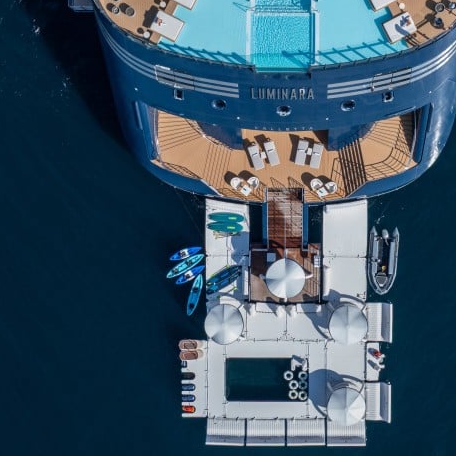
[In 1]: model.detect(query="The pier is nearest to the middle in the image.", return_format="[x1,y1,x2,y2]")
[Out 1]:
[206,200,250,256]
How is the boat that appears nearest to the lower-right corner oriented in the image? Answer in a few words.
up and down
